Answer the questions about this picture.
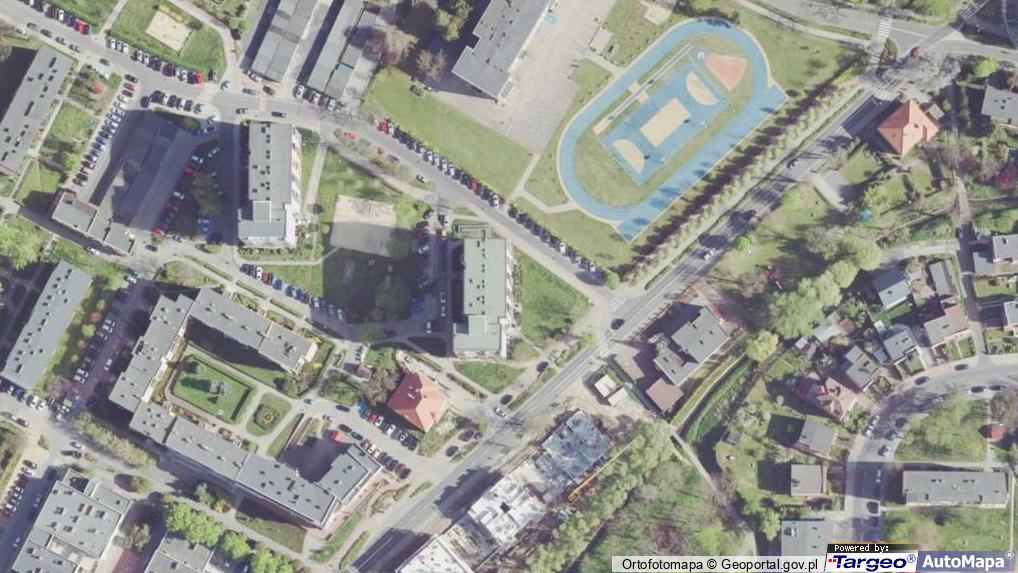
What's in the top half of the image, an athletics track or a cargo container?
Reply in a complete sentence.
There is an athletics track in the top half of the image.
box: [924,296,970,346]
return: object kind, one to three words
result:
house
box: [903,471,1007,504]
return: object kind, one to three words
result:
building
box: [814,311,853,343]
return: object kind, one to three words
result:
shed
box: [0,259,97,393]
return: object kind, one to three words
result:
building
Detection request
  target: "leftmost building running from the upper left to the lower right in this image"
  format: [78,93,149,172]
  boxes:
[52,193,136,257]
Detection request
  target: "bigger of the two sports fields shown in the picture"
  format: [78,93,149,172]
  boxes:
[330,196,394,257]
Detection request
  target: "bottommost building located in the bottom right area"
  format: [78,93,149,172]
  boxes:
[779,517,832,573]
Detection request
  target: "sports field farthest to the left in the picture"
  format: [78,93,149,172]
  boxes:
[146,10,192,52]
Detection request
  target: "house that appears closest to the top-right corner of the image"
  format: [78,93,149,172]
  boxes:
[980,84,1018,126]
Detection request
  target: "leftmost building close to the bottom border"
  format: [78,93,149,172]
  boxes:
[10,468,134,573]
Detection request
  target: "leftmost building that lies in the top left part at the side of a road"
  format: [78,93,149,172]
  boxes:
[0,45,82,175]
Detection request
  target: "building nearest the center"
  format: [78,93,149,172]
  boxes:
[452,238,516,359]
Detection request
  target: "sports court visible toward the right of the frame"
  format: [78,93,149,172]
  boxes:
[597,61,733,188]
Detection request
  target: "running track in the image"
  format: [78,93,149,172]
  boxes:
[557,14,787,242]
